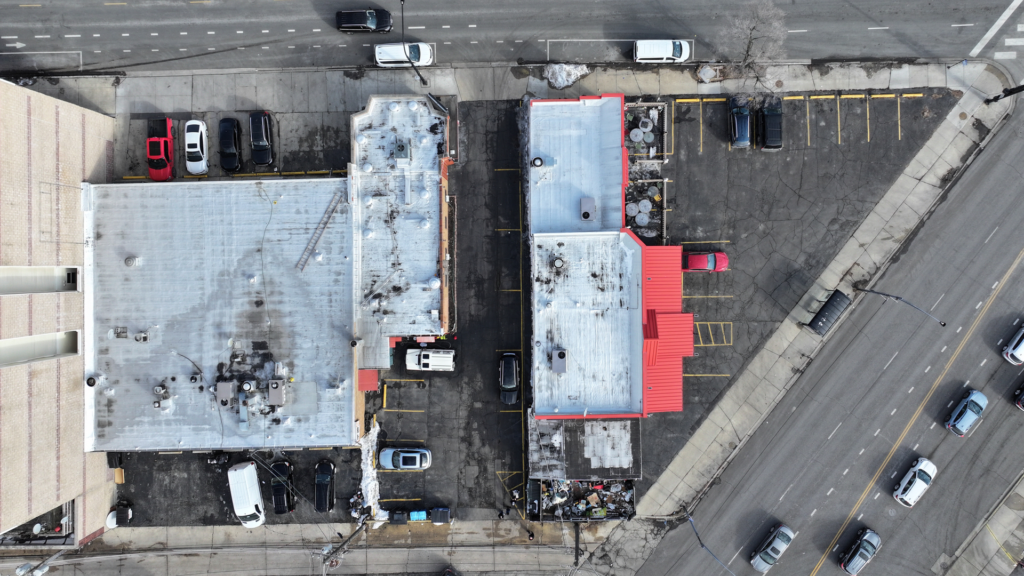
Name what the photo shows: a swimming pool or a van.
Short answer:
van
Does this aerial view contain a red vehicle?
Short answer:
Yes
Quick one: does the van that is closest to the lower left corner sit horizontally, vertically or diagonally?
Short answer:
vertically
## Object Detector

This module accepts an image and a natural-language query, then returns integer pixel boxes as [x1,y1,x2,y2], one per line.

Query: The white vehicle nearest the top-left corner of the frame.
[182,120,210,175]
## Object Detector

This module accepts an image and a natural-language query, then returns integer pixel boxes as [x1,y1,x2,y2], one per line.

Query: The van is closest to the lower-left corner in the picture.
[228,459,265,526]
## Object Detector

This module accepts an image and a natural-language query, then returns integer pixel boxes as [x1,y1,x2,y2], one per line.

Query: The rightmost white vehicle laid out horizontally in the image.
[634,38,689,65]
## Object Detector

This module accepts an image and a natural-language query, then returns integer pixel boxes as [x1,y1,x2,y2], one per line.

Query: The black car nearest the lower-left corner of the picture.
[268,460,296,513]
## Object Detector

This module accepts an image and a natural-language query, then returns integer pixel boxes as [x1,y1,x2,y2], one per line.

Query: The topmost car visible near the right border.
[996,317,1024,366]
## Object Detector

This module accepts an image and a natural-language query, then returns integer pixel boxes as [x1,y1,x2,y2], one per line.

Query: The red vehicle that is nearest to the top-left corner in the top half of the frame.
[145,117,177,182]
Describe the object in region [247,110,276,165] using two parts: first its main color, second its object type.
black car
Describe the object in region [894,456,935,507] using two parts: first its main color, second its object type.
white car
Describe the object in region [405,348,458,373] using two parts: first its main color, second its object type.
white car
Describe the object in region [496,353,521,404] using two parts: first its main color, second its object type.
black car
